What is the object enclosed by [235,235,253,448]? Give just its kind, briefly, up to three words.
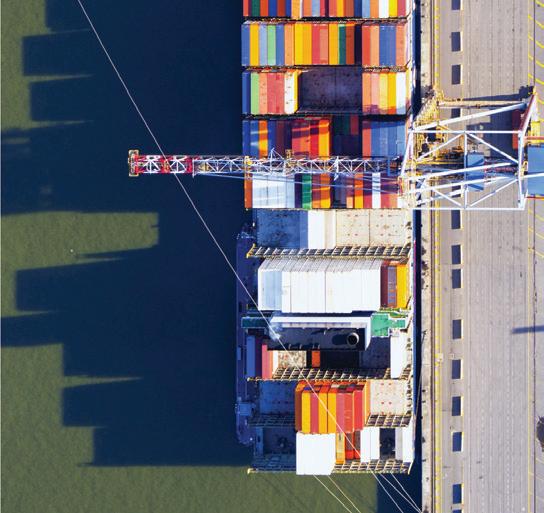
ship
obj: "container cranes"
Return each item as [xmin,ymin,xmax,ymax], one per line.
[128,83,544,215]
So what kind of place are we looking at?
port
